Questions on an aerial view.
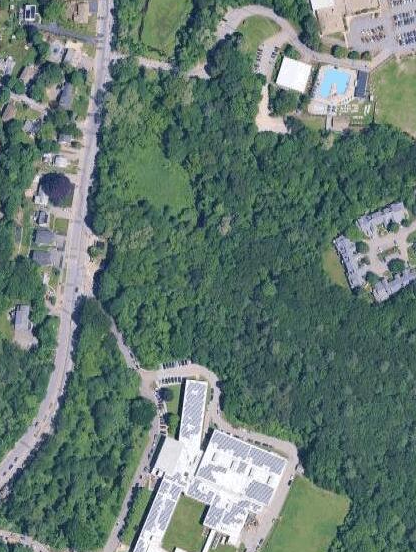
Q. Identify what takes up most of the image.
trees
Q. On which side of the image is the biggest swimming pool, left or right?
right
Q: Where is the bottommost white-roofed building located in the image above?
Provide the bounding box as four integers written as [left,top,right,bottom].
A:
[135,380,287,552]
